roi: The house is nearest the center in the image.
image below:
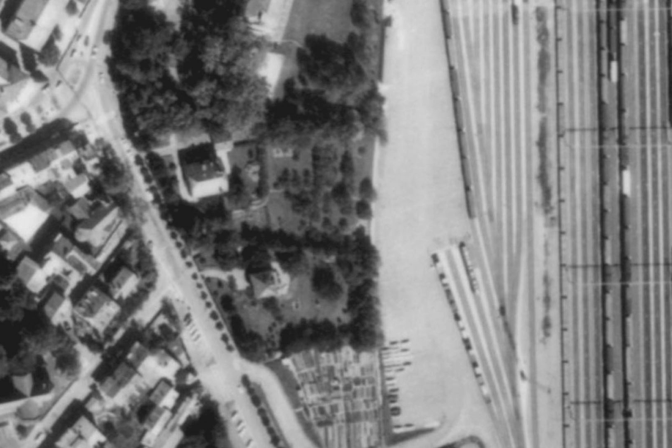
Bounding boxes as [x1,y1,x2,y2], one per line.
[249,270,281,299]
